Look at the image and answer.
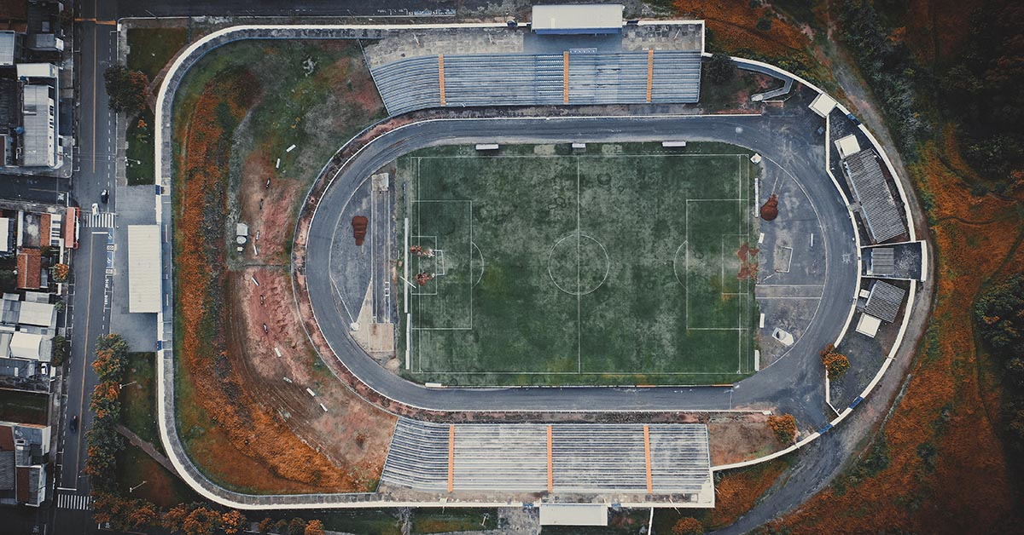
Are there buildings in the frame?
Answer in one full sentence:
Yes, a building can be made out from above.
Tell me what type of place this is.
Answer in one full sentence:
The picture captures a sports ground.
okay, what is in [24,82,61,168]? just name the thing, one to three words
building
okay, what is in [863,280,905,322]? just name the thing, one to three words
shed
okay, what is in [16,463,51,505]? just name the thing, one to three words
house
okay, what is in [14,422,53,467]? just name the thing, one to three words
house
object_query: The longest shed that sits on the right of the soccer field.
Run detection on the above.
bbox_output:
[843,149,905,243]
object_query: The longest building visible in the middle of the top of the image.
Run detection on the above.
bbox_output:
[531,3,623,35]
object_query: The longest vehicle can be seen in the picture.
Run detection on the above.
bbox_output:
[66,207,81,249]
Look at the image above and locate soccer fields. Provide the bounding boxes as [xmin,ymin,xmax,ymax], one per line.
[397,142,759,389]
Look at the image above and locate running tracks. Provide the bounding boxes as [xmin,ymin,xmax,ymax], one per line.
[306,114,858,412]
